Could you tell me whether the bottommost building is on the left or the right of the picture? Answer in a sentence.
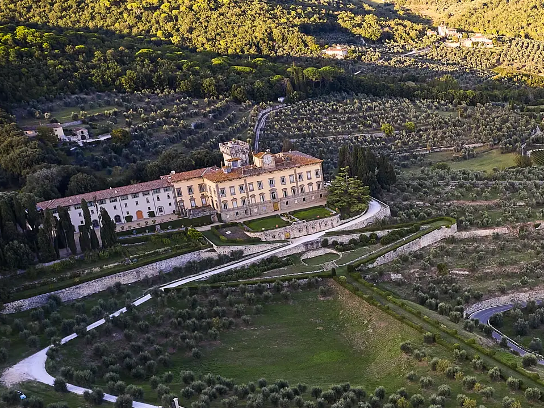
The bottommost building is on the left side of the image.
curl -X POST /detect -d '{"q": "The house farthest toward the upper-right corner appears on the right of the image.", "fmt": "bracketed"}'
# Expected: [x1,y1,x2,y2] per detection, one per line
[461,33,495,49]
